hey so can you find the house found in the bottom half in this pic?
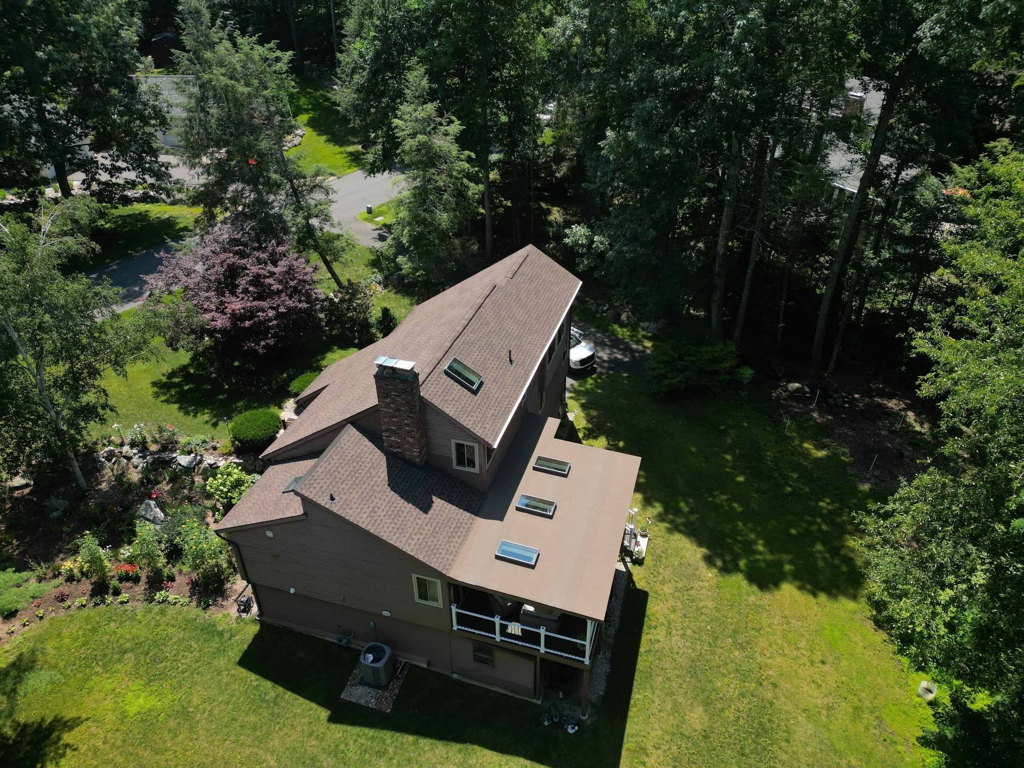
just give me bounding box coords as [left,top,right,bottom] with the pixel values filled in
[211,244,644,714]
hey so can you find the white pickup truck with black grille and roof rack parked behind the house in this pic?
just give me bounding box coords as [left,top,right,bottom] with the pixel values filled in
[568,322,598,375]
